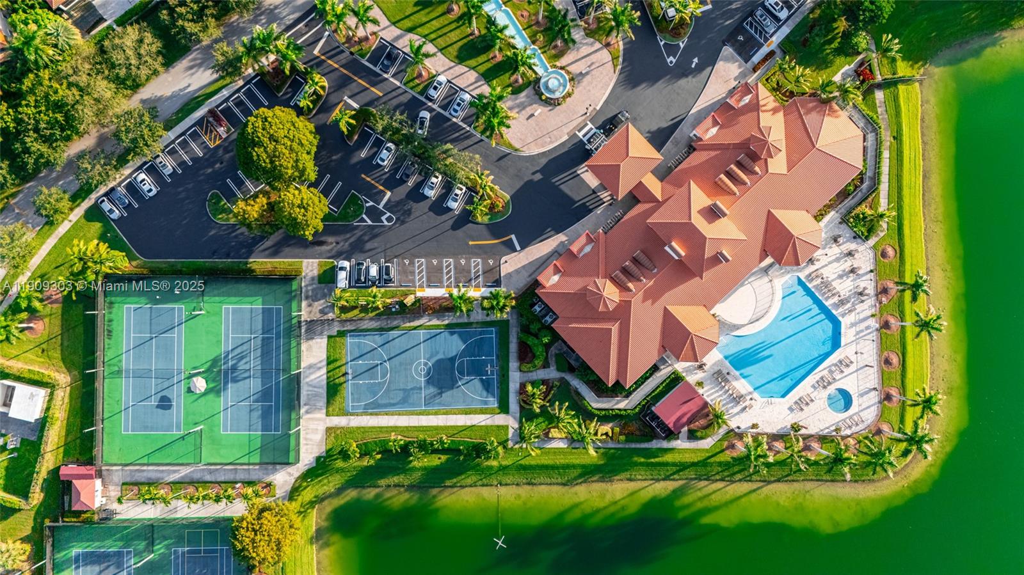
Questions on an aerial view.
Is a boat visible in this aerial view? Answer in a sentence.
No, I find no boat anywhere in the image.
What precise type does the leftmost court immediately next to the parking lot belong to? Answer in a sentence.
The leftmost court immediately next to the parking lot in the image is a tennis court.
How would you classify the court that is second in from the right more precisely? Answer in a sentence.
It turns out the court that is second in from the right is a tennis court.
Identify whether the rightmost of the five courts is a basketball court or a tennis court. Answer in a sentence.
I'd identify the rightmost of the five courts as a basketball court.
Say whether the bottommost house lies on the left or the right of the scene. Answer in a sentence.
The bottommost house appears in the left half of the scene.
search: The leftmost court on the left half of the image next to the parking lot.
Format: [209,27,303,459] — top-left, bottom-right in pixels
[102,279,203,466]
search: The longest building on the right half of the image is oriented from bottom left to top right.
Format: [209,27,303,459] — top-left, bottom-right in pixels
[535,82,863,388]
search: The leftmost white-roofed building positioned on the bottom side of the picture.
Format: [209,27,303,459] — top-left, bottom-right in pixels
[0,379,57,422]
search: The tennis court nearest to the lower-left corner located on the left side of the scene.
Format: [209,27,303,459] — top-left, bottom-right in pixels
[52,523,154,575]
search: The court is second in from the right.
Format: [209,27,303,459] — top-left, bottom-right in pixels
[203,279,301,465]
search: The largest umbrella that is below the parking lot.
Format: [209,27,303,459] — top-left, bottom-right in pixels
[190,376,207,393]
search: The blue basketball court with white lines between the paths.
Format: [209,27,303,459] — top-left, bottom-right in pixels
[346,327,500,414]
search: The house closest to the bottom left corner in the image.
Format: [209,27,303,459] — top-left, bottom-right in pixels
[60,465,103,510]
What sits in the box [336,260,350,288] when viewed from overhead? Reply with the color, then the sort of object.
white car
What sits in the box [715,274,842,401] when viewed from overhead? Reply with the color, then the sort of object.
blue swimming pool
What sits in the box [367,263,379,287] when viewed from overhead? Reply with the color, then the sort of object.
white vehicle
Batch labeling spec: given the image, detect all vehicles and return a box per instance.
[446,184,467,210]
[398,157,418,183]
[376,141,397,167]
[353,259,367,286]
[152,152,175,177]
[367,263,379,287]
[423,173,443,197]
[764,0,787,21]
[573,0,590,23]
[595,114,624,141]
[108,184,131,209]
[379,46,399,72]
[98,195,122,220]
[336,260,350,288]
[417,111,430,135]
[427,74,447,100]
[98,503,111,517]
[450,92,470,117]
[753,9,777,34]
[135,171,158,196]
[384,262,394,285]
